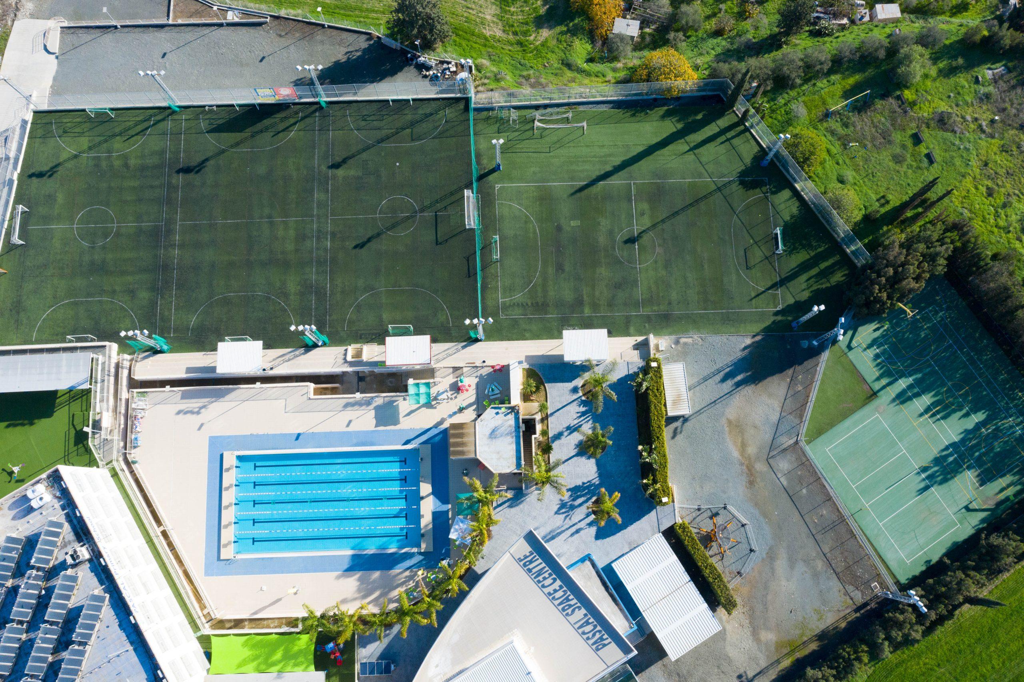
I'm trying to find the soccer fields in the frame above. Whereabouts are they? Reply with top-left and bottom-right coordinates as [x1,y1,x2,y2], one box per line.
[0,107,176,356]
[473,102,860,342]
[321,98,481,347]
[165,102,324,352]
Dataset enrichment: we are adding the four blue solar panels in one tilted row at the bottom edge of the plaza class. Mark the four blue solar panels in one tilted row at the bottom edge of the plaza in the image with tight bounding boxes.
[360,659,396,676]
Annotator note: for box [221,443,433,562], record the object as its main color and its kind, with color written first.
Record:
blue swimming pool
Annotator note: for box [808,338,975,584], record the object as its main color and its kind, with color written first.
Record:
green tennis court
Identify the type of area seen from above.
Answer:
sports ground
